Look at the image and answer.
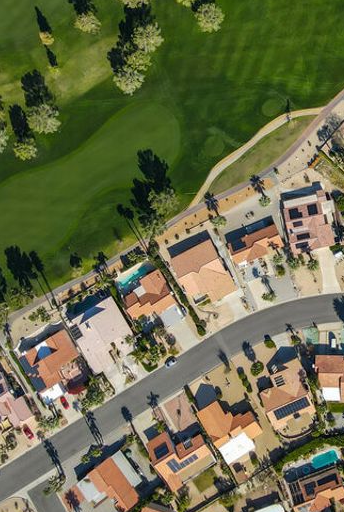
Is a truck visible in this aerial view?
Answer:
No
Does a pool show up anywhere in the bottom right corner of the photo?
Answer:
Yes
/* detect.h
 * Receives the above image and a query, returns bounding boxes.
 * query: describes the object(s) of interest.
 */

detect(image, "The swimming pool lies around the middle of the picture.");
[115,260,159,297]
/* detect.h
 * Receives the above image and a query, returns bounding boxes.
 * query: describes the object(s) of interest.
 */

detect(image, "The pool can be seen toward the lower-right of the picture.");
[285,447,340,479]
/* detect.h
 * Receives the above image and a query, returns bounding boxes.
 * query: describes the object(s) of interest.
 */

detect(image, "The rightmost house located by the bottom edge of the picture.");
[288,467,344,512]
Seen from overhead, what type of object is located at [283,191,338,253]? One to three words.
house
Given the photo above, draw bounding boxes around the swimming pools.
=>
[115,260,159,297]
[285,447,340,479]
